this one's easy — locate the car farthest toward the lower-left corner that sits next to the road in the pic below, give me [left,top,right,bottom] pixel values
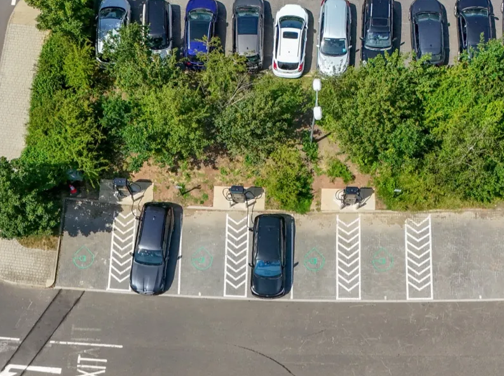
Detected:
[129,205,177,292]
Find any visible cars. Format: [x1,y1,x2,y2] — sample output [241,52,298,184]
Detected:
[135,0,175,65]
[358,0,400,60]
[129,205,177,292]
[180,0,220,73]
[272,3,312,80]
[315,0,356,76]
[409,0,450,67]
[455,0,497,61]
[247,215,291,297]
[228,0,268,74]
